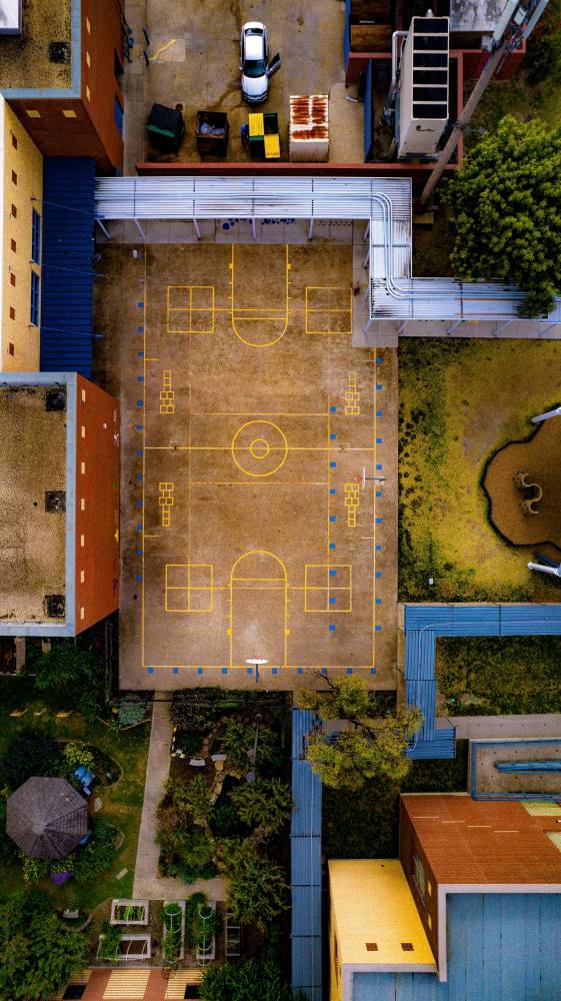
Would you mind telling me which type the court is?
basketball court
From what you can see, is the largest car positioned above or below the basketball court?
above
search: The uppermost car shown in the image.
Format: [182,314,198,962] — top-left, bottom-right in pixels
[237,22,284,105]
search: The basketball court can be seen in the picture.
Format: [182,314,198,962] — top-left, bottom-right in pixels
[96,243,398,691]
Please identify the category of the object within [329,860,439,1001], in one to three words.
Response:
building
